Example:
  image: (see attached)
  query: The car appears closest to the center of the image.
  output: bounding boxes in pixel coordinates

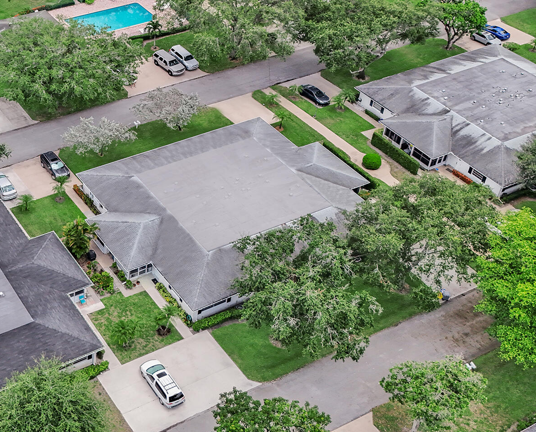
[296,84,334,109]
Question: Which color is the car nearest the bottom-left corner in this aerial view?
white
